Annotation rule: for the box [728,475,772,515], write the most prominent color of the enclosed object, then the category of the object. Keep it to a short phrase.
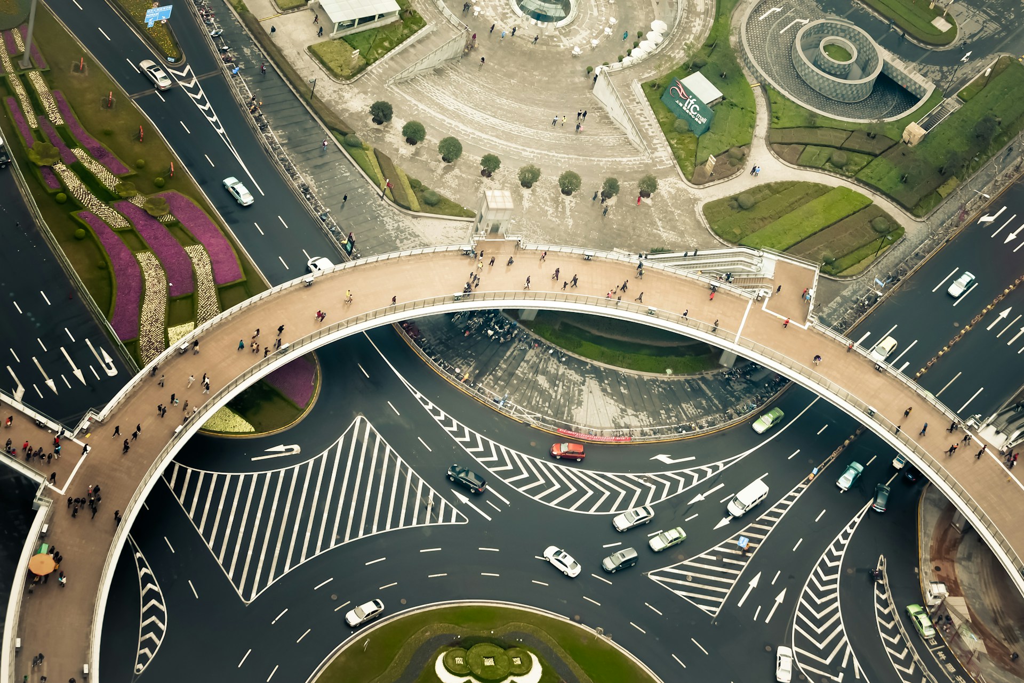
white vehicle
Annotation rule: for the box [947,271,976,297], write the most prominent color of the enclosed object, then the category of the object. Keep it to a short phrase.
white car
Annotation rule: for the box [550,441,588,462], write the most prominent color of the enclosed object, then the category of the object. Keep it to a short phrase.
red car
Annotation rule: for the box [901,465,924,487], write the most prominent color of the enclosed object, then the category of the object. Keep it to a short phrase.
black car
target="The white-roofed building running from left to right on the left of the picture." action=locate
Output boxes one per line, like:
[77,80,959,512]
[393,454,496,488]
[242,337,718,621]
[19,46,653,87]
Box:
[311,0,401,37]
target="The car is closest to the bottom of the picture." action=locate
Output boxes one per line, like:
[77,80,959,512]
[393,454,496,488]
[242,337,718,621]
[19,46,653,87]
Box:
[775,646,795,683]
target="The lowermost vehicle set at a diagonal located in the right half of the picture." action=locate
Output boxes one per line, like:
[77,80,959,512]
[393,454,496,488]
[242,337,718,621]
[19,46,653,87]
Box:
[904,604,937,641]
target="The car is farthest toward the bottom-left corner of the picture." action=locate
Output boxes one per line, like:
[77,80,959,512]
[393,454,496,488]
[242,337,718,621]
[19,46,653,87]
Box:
[343,598,388,627]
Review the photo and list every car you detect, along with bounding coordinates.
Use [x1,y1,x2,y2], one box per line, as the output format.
[541,545,584,578]
[138,60,172,91]
[890,452,909,475]
[904,604,937,641]
[0,139,8,152]
[550,441,588,462]
[947,271,976,297]
[613,505,655,531]
[599,544,642,574]
[751,407,786,434]
[445,464,489,494]
[775,646,795,683]
[343,598,388,627]
[870,480,893,516]
[871,335,898,361]
[304,254,334,271]
[928,389,941,401]
[901,465,924,487]
[221,177,256,206]
[834,461,865,491]
[648,526,688,552]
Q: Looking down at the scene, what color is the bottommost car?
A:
white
